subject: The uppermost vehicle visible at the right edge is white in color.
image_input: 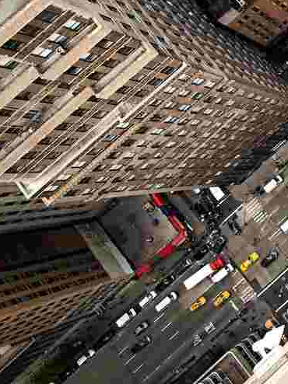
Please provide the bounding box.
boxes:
[261,174,283,195]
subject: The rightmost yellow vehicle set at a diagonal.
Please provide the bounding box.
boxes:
[240,252,260,271]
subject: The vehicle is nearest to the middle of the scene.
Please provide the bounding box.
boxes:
[205,185,230,199]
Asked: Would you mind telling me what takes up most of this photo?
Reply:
buildings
